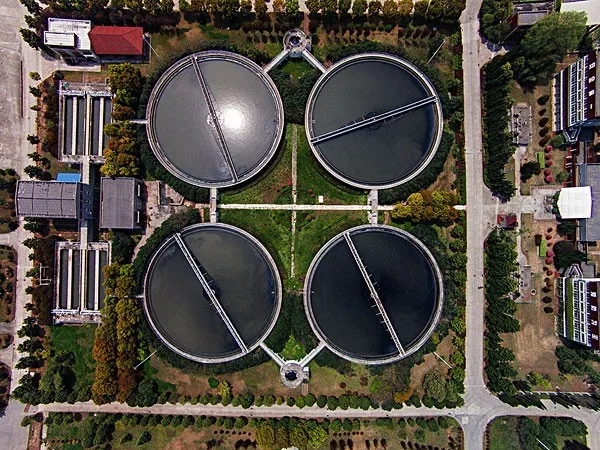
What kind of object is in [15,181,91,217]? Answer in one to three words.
building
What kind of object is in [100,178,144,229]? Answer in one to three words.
house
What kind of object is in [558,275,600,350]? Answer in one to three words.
building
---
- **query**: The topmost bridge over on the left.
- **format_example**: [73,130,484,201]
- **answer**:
[190,54,241,184]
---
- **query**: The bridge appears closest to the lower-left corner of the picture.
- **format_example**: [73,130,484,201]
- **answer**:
[173,234,251,353]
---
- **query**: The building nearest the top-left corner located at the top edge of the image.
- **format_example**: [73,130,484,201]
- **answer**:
[43,17,98,58]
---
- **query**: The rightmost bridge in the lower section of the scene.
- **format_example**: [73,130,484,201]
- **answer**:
[343,233,407,355]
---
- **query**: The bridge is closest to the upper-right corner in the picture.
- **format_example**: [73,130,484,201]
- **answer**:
[309,96,439,145]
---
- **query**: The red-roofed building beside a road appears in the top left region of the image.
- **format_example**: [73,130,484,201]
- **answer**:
[90,26,146,59]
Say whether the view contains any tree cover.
Yes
